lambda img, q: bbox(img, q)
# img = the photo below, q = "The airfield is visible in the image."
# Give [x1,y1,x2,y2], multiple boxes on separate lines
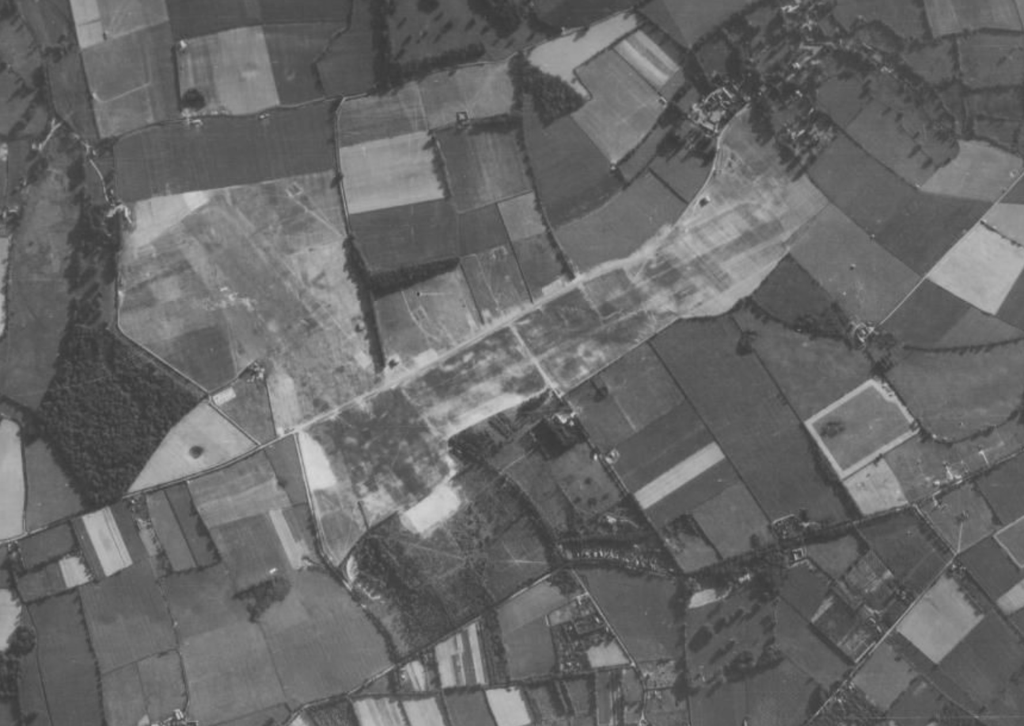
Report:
[117,107,830,567]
